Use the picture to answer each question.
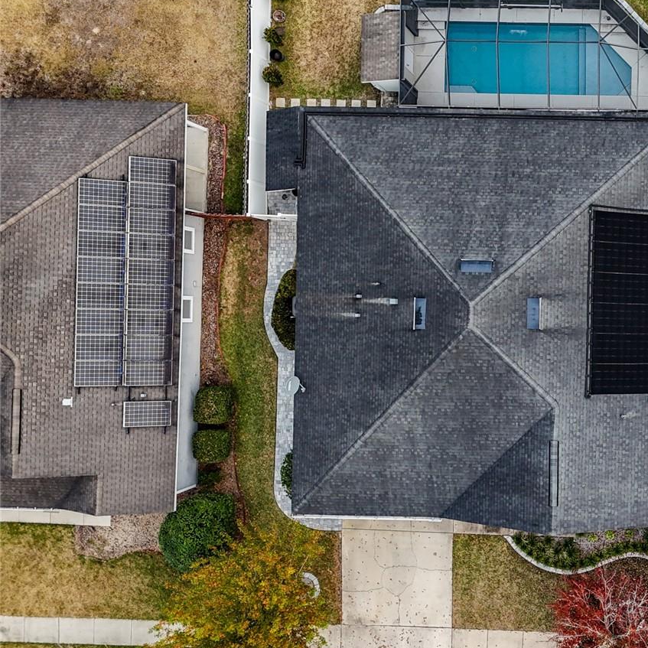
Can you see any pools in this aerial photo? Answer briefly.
Yes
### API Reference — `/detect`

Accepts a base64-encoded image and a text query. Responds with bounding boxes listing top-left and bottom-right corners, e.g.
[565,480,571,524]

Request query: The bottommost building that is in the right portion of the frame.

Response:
[264,108,648,533]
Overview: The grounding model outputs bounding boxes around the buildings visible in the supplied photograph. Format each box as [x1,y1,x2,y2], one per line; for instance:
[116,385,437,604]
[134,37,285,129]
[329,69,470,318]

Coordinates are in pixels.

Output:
[264,108,648,533]
[361,11,414,90]
[0,99,210,514]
